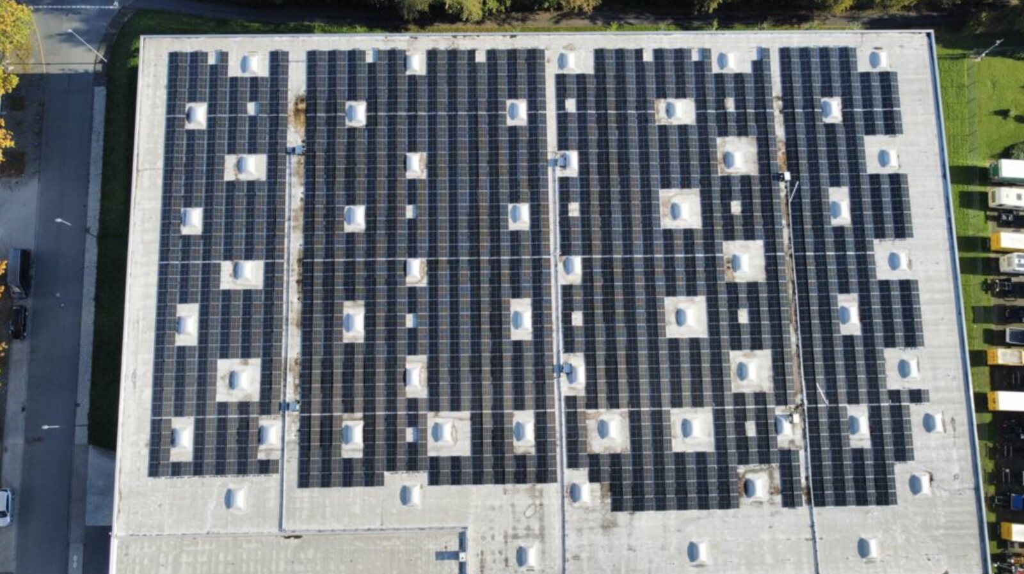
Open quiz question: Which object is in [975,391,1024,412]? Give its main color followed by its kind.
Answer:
white truck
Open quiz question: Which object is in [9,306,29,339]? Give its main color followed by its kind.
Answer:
black car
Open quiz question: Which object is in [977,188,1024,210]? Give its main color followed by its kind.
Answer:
white camper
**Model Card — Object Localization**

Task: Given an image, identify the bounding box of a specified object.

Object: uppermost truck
[975,159,1024,183]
